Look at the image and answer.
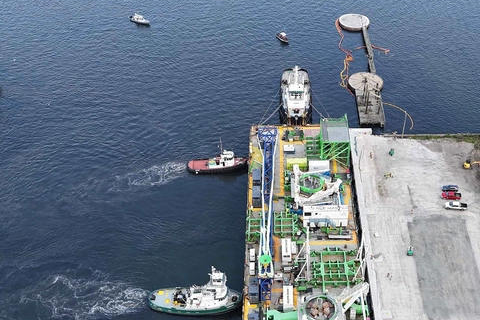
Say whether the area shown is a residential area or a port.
port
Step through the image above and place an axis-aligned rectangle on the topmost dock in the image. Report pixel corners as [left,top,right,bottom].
[356,83,385,130]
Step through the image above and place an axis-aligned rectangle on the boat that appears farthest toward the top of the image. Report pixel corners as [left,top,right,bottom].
[128,12,149,25]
